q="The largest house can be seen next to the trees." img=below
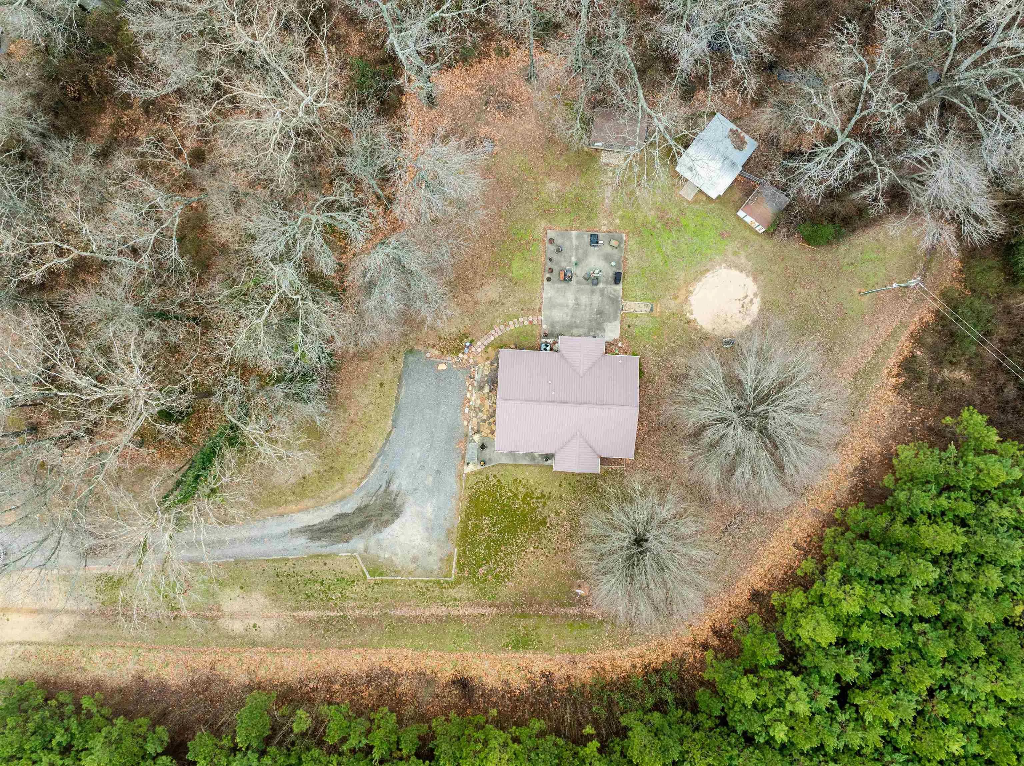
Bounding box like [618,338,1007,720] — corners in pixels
[494,336,640,474]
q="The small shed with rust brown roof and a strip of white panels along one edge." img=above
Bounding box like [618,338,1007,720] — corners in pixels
[735,182,789,232]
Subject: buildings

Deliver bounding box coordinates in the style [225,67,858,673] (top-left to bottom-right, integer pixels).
[494,336,640,474]
[675,112,758,200]
[586,108,647,156]
[735,182,789,232]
